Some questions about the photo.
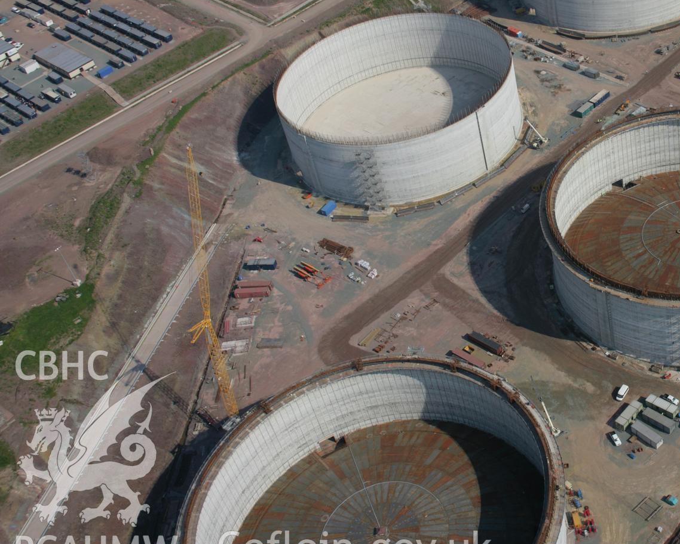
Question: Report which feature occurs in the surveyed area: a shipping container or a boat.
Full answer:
I can see a shipping container in this picture.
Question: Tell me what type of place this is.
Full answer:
The picture captures an industrial area.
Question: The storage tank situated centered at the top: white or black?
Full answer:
The color of the storage tank situated centered at the top is white.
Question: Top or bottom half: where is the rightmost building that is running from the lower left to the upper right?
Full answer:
You can find the rightmost building that is running from the lower left to the upper right in the bottom half.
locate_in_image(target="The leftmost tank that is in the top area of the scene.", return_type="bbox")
[274,7,525,208]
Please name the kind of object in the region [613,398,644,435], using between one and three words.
building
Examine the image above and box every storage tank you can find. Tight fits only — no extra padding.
[178,354,567,544]
[546,111,680,367]
[520,0,680,36]
[274,7,525,208]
